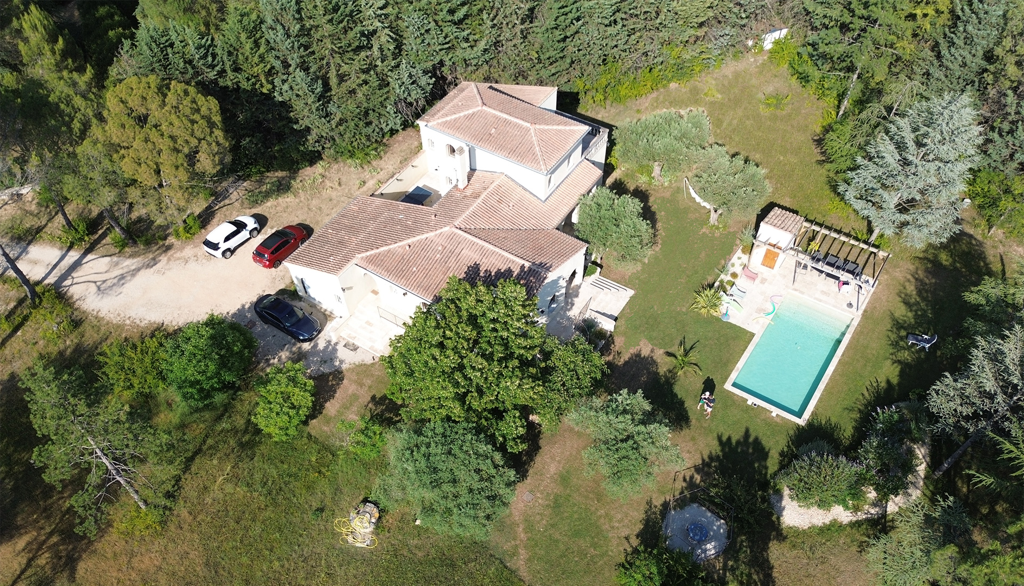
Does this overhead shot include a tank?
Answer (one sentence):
No, there appears to be no tank in this shot.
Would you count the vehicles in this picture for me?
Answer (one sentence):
Altogether the scene contains 3 vehicles.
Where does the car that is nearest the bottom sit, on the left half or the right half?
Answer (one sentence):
It is on the left.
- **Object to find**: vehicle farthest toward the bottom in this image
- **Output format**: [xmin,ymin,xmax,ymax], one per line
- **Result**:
[247,293,322,343]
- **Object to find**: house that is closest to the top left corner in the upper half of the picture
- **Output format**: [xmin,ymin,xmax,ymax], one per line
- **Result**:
[283,80,609,345]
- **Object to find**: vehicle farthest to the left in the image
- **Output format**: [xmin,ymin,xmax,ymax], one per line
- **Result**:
[198,210,262,255]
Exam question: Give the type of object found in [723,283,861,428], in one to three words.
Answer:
swimming pool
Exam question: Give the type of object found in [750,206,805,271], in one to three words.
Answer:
shed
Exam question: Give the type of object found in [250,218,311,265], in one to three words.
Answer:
car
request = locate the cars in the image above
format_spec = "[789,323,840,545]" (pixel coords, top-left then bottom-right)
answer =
[198,210,262,255]
[250,218,311,265]
[247,293,322,343]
